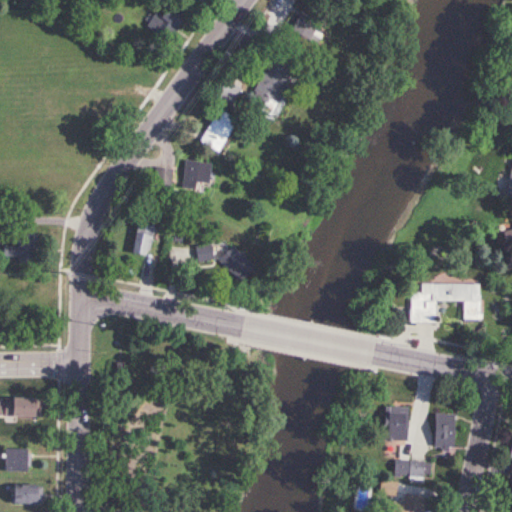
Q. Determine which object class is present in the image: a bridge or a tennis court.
bridge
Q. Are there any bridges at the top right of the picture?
No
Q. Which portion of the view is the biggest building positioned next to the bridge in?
right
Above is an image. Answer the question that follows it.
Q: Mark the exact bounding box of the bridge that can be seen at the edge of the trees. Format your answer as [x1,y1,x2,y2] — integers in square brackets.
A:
[232,308,384,373]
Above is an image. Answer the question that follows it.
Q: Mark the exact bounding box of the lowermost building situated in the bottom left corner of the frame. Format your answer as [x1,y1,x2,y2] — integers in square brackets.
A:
[14,484,44,504]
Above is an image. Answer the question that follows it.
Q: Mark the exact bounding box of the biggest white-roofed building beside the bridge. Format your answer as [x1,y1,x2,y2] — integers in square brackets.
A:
[410,283,484,324]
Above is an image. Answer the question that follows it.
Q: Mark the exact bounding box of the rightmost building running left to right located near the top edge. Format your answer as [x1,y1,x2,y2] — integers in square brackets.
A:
[293,24,324,42]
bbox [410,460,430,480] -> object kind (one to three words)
building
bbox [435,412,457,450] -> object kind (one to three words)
house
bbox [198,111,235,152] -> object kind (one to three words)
house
